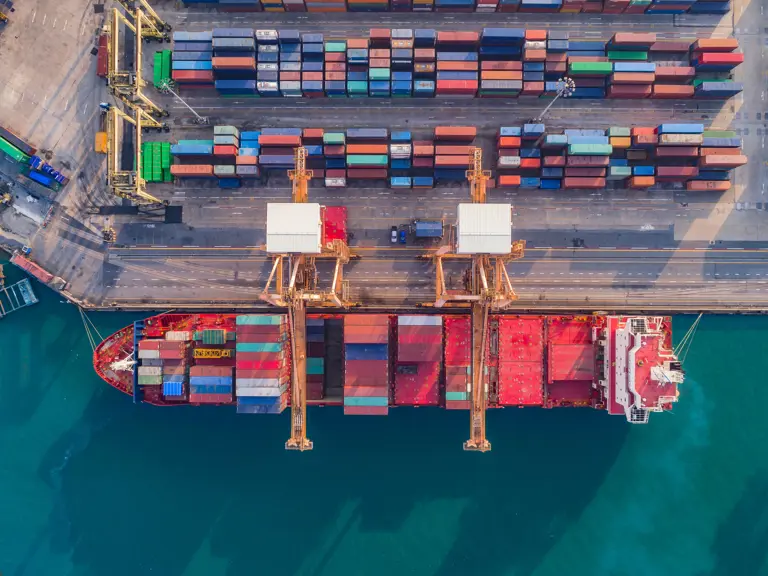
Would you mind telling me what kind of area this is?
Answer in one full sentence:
The area seen from above is a port.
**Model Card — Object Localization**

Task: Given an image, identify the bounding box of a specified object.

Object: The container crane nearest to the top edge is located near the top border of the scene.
[114,0,170,29]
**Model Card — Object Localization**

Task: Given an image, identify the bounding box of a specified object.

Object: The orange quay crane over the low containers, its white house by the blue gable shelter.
[416,148,526,453]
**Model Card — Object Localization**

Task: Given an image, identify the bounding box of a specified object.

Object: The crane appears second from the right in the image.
[256,147,361,452]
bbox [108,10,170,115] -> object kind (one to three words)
container crane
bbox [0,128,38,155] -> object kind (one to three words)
shipping container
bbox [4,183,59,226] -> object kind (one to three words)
shed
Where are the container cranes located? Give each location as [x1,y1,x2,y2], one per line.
[114,0,170,29]
[256,147,361,452]
[416,148,526,453]
[108,10,170,115]
[108,110,170,205]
